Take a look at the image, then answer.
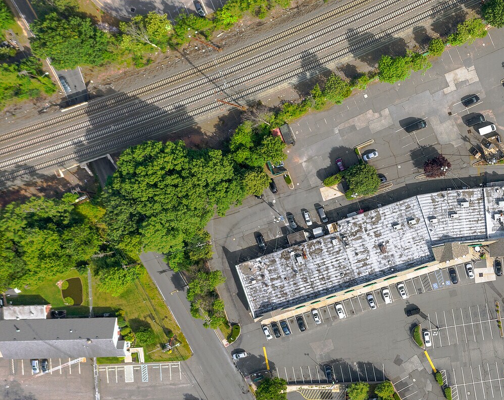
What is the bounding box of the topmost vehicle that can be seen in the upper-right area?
[463,94,481,107]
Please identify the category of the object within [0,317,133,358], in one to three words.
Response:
building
